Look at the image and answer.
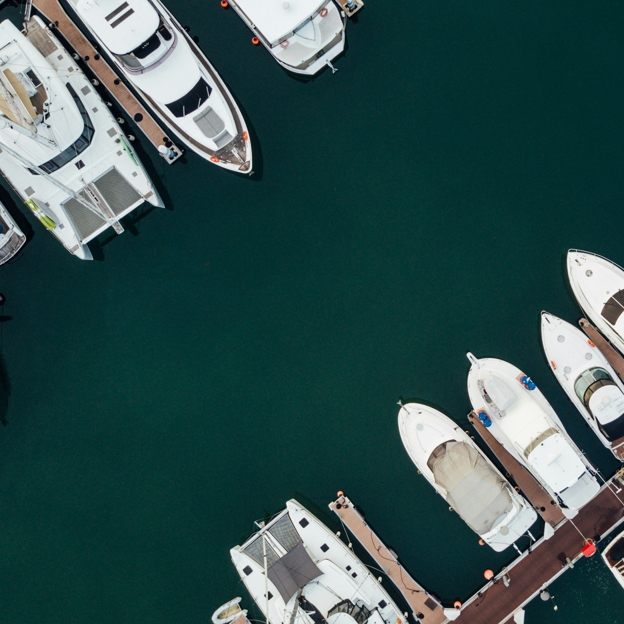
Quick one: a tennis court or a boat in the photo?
boat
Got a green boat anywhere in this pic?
Yes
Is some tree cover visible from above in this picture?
No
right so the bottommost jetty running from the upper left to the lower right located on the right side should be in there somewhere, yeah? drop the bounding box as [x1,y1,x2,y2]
[332,495,460,624]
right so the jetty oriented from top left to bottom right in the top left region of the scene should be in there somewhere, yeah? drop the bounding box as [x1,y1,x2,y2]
[29,0,184,165]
